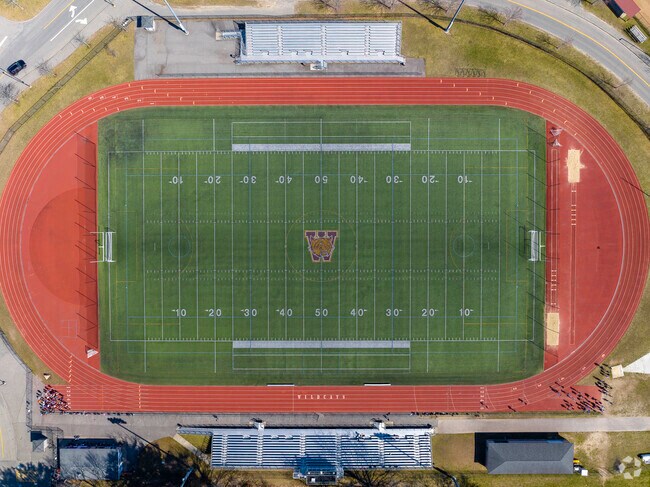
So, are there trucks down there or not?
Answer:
No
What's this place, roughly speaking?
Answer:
sports ground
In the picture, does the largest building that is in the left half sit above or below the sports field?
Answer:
below it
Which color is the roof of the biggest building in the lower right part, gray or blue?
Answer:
gray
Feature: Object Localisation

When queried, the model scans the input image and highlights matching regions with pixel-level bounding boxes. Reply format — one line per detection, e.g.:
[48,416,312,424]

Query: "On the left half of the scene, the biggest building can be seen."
[59,444,125,479]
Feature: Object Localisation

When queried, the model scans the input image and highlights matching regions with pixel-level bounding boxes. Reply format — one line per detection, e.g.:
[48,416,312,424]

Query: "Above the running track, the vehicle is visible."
[4,58,25,74]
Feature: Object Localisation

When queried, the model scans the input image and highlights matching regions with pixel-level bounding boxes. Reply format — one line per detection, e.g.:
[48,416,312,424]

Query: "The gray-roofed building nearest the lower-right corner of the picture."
[486,438,574,474]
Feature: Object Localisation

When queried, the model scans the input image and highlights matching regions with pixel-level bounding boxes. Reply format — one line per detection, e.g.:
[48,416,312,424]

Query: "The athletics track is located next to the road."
[0,79,649,413]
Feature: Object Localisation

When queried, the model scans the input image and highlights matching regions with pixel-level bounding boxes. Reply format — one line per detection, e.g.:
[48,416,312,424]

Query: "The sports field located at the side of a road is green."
[98,105,546,386]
